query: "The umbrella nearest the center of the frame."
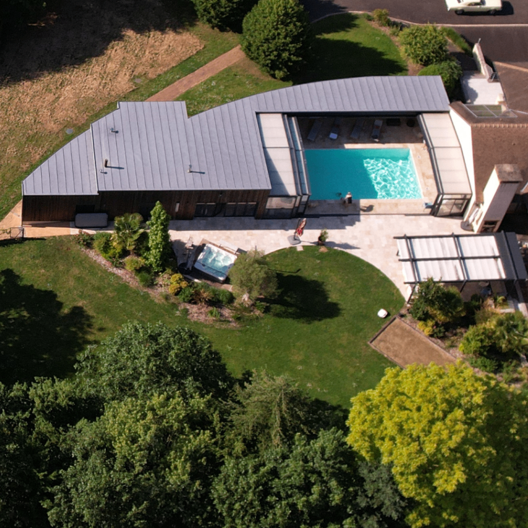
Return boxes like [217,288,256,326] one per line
[287,220,305,245]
